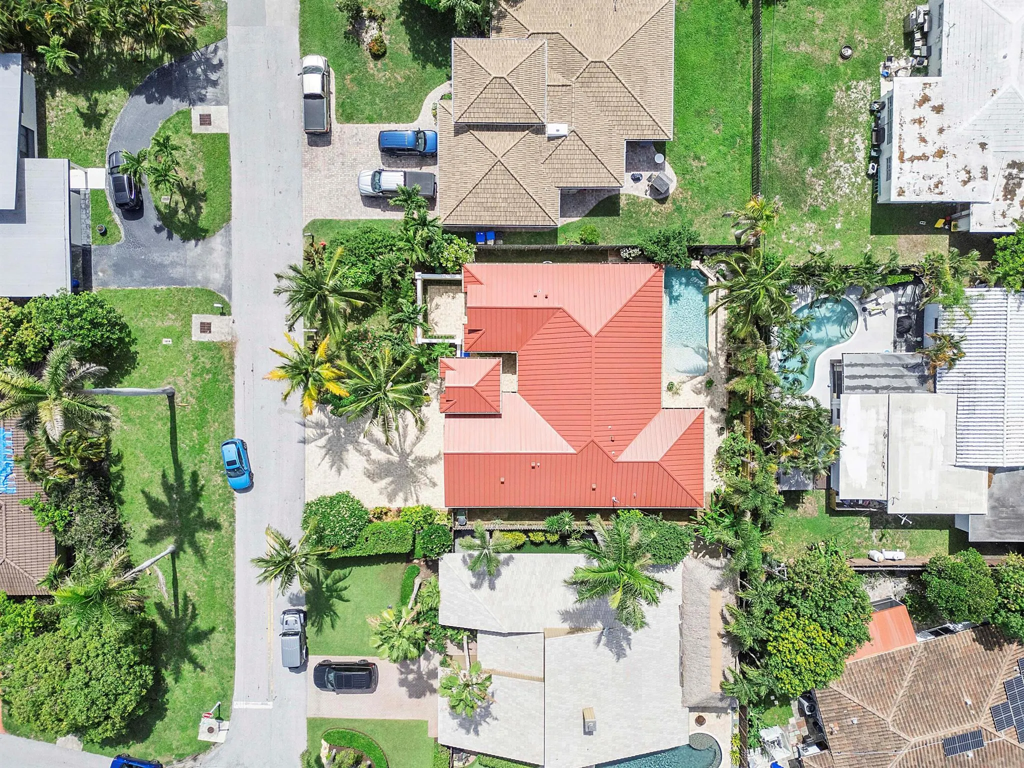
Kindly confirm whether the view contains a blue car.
Yes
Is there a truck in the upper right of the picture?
No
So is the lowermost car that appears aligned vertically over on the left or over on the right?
left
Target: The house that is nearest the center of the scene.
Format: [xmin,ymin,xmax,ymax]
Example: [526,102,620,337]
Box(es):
[438,261,706,510]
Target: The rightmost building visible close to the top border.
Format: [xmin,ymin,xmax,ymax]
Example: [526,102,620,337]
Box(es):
[879,0,1024,234]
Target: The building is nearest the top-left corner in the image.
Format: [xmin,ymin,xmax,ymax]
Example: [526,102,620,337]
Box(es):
[0,53,106,297]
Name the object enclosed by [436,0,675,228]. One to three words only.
house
